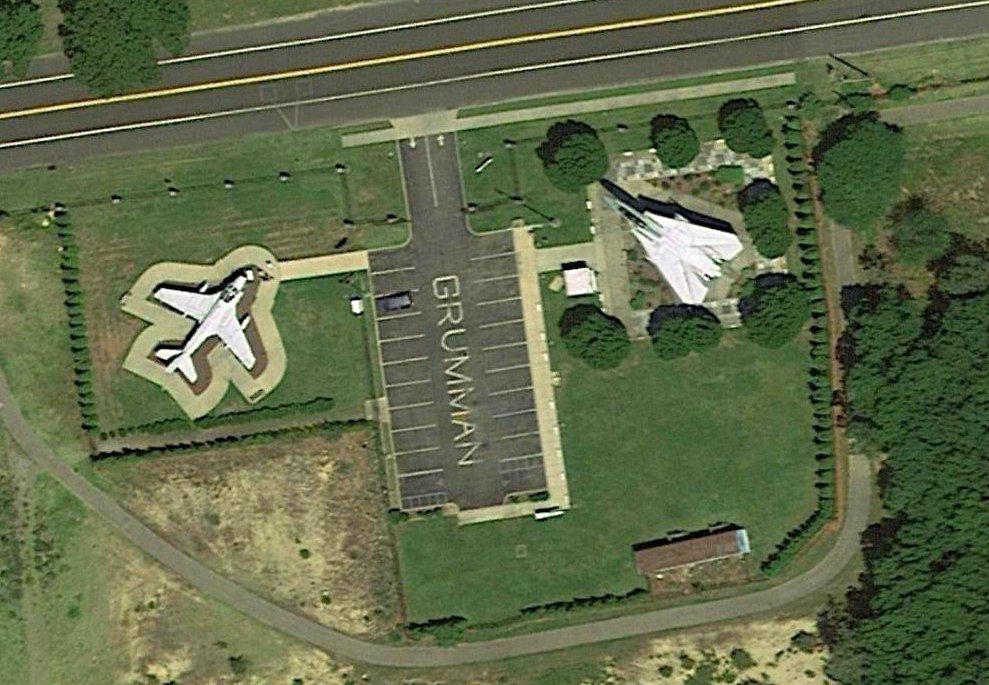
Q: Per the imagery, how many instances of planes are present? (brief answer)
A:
2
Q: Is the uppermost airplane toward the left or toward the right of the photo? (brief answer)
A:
right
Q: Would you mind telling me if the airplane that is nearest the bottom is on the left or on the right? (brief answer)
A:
left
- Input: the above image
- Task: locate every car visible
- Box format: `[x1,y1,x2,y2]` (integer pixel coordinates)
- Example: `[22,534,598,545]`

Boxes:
[377,293,414,311]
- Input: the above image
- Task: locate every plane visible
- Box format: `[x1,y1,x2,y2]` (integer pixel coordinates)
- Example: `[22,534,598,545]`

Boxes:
[604,197,742,305]
[153,275,253,382]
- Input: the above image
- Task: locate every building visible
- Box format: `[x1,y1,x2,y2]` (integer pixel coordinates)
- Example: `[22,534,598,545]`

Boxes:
[563,268,602,297]
[635,530,751,574]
